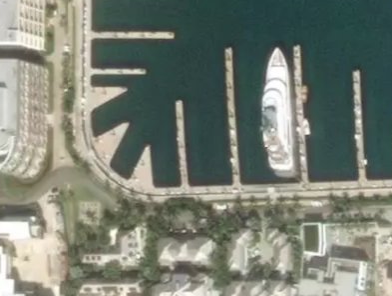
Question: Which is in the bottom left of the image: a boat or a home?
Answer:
home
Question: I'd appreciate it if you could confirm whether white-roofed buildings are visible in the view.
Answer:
Yes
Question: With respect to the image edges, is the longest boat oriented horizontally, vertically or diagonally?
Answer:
vertically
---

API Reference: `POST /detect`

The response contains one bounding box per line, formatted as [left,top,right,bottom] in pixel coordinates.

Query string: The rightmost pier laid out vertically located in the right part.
[353,70,368,181]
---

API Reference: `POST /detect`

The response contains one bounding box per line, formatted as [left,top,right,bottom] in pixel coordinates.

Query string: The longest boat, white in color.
[264,47,301,178]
